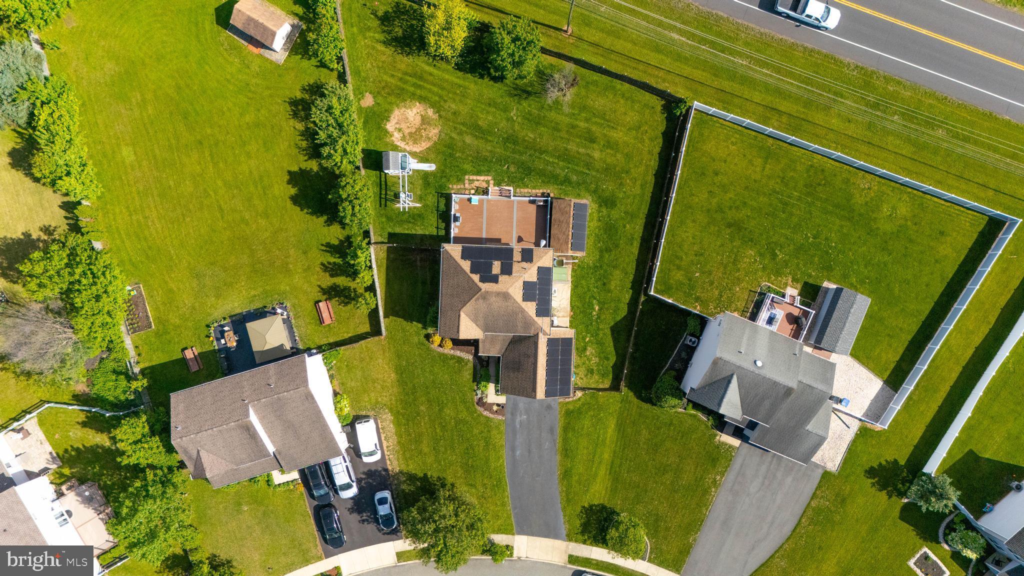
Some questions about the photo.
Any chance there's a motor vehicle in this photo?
Yes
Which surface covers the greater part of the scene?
grass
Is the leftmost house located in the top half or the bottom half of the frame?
bottom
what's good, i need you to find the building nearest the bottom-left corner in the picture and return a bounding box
[0,439,102,576]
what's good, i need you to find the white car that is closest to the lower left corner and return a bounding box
[329,450,359,499]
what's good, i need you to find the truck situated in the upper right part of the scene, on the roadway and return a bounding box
[774,0,838,31]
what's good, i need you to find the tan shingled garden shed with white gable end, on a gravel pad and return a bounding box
[230,0,295,53]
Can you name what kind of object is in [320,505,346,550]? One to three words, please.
car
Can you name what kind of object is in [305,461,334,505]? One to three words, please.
car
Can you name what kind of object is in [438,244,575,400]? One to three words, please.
house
